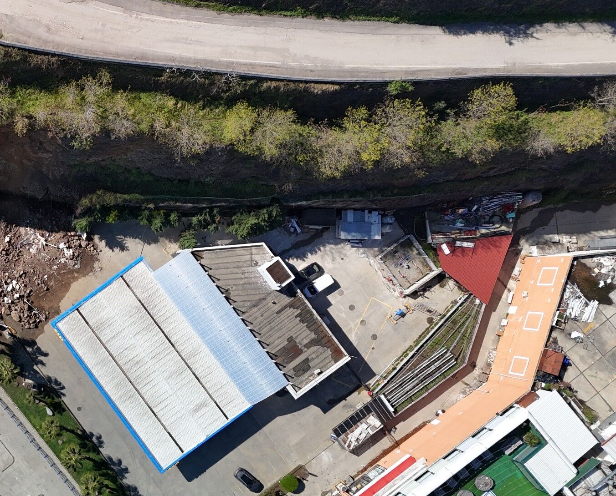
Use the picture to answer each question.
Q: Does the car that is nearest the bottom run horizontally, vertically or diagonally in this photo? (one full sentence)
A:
In this picture, the car that is nearest the bottom is oriented diagonally.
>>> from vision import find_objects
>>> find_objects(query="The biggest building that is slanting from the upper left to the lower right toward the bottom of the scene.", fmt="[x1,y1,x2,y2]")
[175,241,353,399]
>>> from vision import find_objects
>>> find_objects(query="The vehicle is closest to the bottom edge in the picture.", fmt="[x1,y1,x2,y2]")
[236,466,262,494]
